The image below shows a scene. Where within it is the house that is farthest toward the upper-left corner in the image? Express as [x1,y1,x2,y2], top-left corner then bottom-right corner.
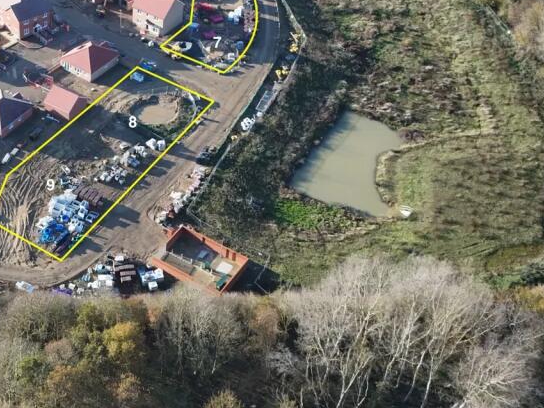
[0,0,53,42]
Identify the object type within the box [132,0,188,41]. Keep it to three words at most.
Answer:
house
